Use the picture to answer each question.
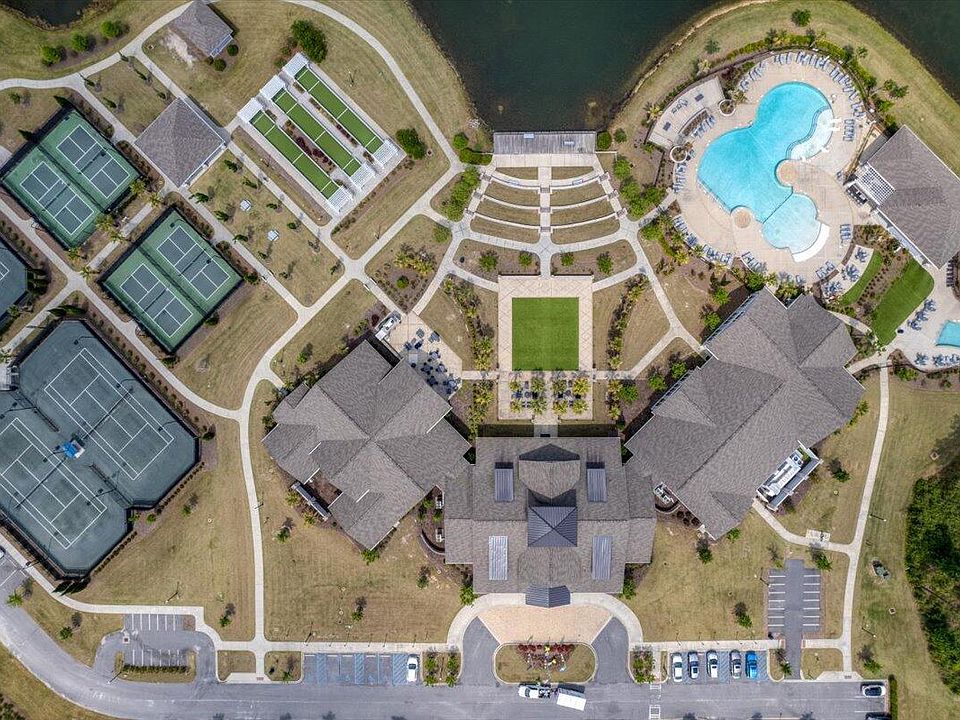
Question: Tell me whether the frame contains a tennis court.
Yes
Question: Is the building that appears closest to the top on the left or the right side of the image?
left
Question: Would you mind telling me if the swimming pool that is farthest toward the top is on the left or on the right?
right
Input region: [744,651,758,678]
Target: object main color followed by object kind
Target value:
blue car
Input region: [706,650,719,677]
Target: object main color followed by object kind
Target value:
white vehicle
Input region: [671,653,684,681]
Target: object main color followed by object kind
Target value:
white vehicle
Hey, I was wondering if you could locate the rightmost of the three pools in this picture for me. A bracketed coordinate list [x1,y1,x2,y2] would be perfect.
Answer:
[935,319,960,350]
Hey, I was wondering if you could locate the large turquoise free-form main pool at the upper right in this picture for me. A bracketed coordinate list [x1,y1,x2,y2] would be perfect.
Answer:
[696,81,834,224]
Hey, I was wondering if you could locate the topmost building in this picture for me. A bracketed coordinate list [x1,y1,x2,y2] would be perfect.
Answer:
[168,0,238,61]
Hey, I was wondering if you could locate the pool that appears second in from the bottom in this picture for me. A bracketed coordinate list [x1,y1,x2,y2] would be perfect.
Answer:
[760,192,830,262]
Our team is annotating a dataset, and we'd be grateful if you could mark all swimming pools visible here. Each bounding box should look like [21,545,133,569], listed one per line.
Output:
[696,81,834,224]
[760,192,830,262]
[935,319,960,350]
